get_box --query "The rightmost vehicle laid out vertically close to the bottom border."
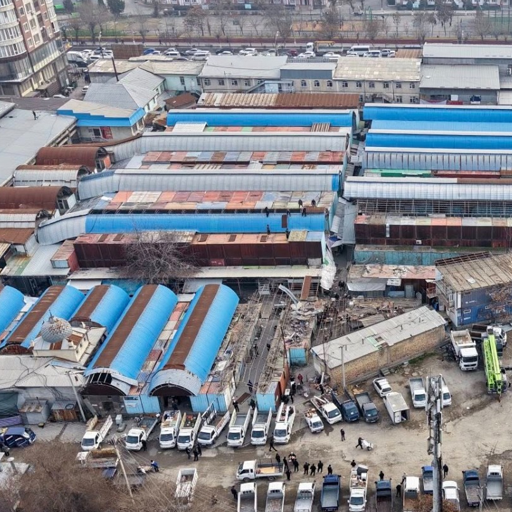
[485,459,505,499]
